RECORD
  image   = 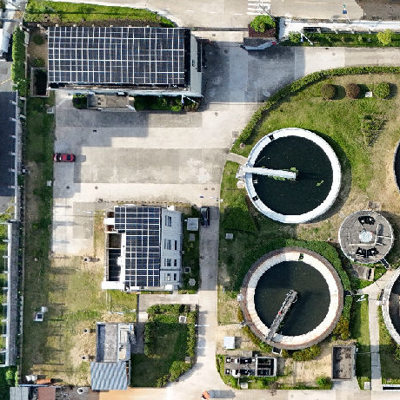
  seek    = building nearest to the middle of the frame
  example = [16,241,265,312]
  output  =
[101,202,183,293]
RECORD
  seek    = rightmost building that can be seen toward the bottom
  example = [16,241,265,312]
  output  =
[226,350,278,386]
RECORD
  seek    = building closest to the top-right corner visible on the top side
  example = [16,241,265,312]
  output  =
[241,23,283,53]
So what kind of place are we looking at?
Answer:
industrial area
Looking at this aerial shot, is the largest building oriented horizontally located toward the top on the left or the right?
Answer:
left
